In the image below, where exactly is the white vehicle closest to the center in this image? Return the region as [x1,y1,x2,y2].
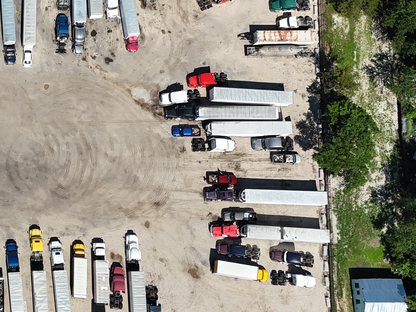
[190,137,235,152]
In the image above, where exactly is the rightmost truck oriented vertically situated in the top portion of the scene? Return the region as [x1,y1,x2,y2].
[118,0,139,53]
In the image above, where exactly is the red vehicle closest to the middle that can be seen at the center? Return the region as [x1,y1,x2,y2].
[205,170,236,184]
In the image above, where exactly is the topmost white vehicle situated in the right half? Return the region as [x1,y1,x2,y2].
[277,15,313,30]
